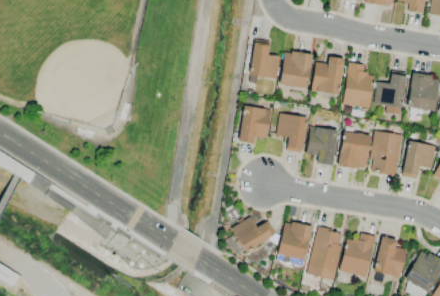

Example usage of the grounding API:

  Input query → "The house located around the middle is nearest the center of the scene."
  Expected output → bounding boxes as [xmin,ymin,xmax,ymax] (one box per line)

[240,106,271,142]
